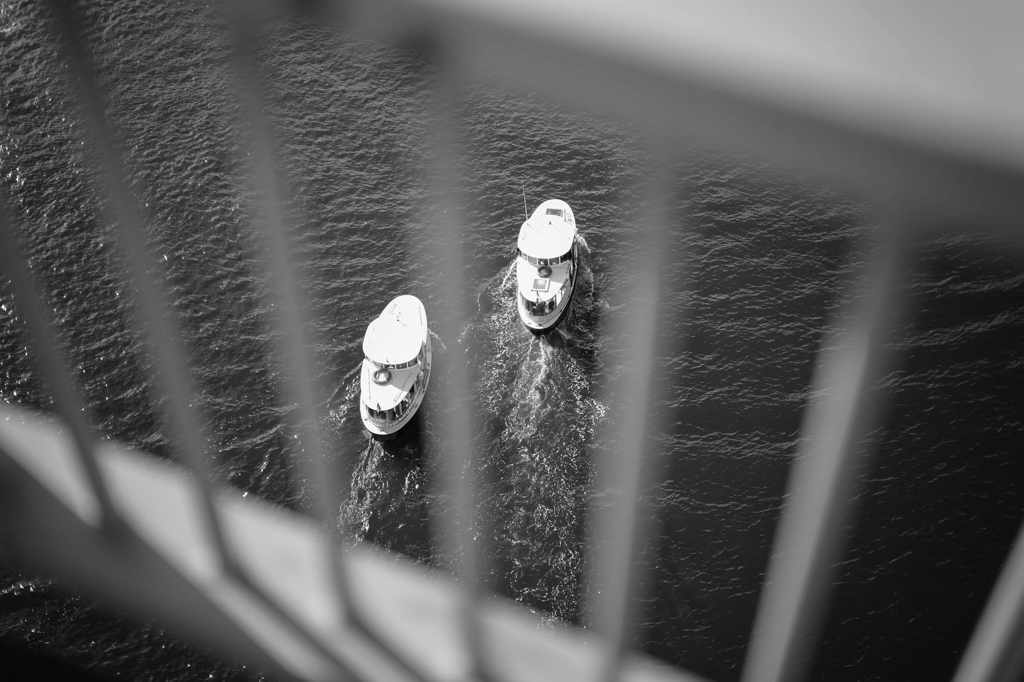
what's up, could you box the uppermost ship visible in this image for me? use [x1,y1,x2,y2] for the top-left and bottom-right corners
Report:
[516,169,581,337]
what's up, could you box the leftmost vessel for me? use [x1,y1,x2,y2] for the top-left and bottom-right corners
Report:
[360,293,433,442]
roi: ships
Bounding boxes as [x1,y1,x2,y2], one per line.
[516,169,581,337]
[360,293,433,442]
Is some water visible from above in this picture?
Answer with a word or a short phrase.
Yes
